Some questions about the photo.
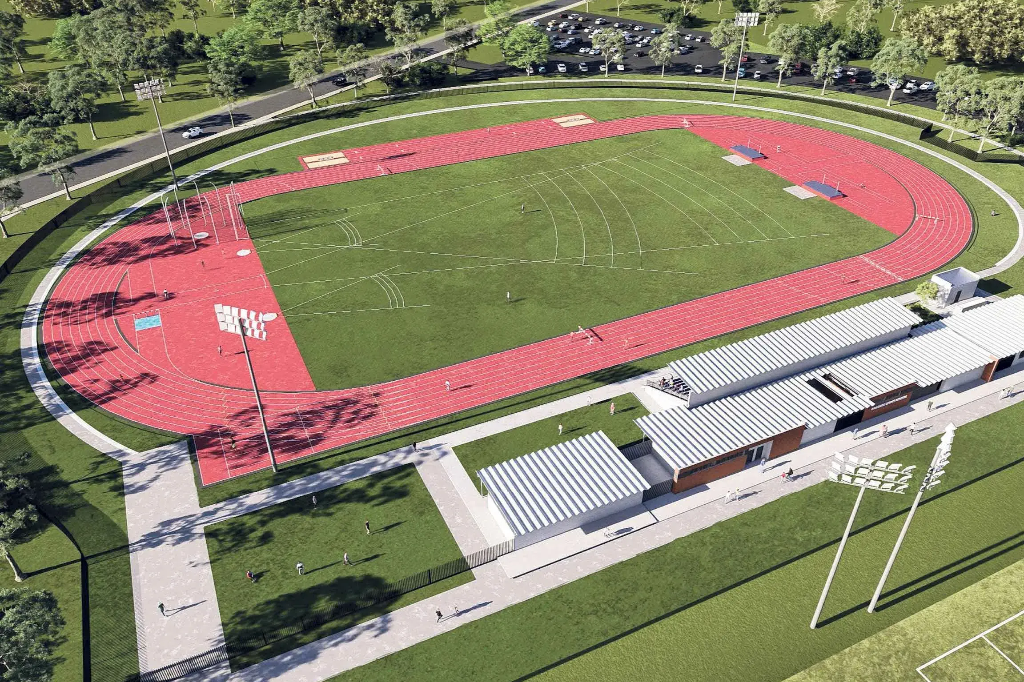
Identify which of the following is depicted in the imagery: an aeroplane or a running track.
running track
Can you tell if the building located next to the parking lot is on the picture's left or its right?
right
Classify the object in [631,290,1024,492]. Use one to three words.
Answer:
building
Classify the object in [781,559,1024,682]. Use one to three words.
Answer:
sports field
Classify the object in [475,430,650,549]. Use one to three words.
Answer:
shed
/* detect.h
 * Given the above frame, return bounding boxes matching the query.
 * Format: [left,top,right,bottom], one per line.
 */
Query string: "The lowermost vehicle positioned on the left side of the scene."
[182,125,203,137]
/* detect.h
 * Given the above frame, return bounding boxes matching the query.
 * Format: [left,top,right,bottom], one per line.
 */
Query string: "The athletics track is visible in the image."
[44,113,972,442]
